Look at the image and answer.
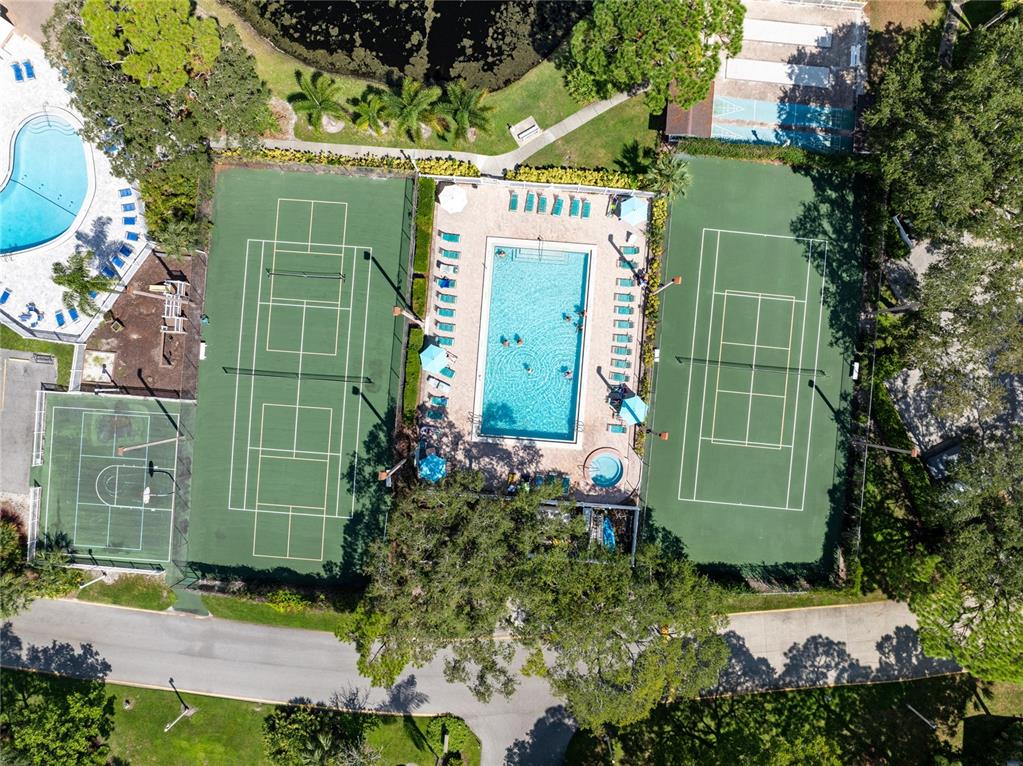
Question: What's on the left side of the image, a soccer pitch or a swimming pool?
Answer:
swimming pool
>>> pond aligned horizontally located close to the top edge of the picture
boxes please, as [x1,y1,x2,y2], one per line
[224,0,593,95]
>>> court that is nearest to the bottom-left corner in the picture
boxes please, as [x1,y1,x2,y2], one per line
[30,391,196,576]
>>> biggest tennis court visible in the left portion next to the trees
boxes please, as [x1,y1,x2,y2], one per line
[187,168,414,579]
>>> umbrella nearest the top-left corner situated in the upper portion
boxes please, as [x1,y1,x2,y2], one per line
[439,185,468,213]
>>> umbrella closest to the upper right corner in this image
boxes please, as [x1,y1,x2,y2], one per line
[621,196,647,227]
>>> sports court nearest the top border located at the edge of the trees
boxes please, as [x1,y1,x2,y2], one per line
[739,18,833,48]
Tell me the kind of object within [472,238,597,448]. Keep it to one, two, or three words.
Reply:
swimming pool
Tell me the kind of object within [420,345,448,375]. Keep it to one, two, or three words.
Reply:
umbrella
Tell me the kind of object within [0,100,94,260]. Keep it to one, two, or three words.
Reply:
swimming pool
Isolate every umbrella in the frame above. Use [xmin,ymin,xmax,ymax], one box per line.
[617,393,649,426]
[439,185,468,213]
[420,345,448,375]
[621,196,647,227]
[421,453,446,481]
